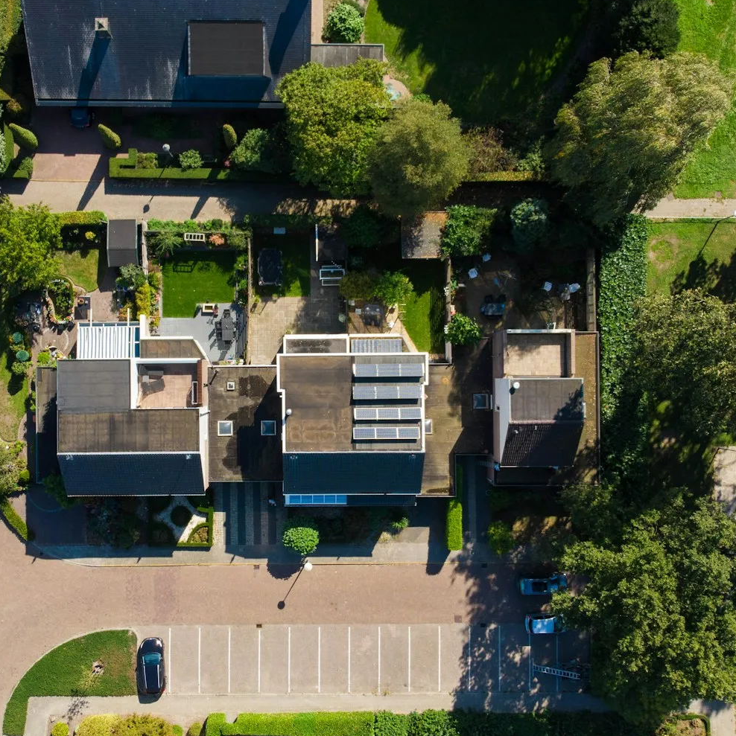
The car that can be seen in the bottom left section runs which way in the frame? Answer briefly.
from top to bottom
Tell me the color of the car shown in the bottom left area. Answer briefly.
black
